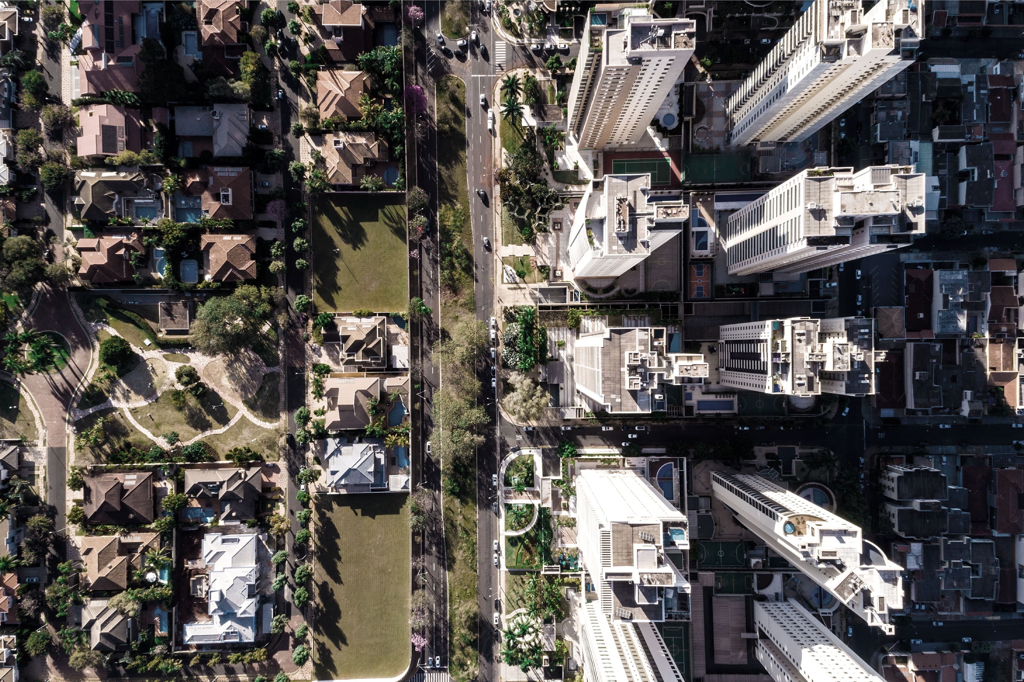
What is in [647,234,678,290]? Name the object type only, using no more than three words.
sports court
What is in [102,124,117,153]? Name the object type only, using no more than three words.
solar panel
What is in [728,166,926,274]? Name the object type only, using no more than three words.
building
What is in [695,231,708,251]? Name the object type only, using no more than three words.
swimming pool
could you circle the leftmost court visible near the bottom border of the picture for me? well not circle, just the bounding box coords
[656,622,690,682]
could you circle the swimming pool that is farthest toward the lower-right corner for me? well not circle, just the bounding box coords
[812,587,834,608]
